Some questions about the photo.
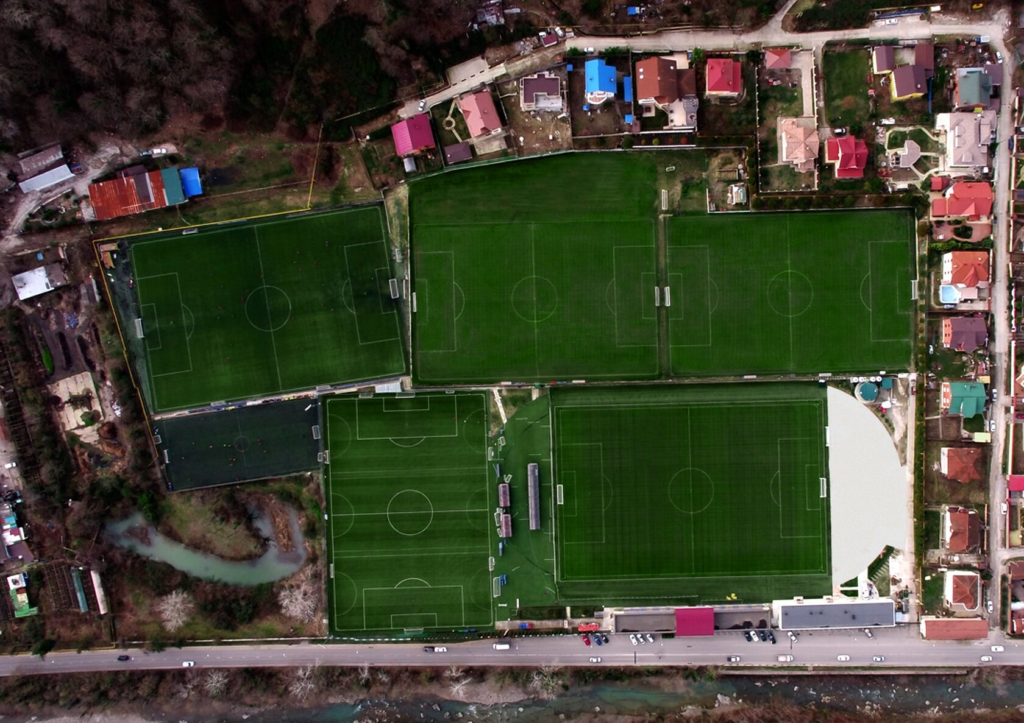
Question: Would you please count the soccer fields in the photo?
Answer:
6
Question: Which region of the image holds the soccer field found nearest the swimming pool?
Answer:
right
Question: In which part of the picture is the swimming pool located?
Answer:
right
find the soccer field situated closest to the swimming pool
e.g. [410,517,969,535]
[667,209,916,379]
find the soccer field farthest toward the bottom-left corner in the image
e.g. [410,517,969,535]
[156,397,323,491]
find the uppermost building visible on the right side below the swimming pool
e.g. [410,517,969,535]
[941,318,987,351]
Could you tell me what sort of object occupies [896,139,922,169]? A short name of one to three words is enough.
building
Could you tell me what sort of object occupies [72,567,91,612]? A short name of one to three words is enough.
greenhouse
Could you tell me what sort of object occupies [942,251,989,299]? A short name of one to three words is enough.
house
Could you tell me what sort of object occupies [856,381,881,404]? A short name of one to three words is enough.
water tank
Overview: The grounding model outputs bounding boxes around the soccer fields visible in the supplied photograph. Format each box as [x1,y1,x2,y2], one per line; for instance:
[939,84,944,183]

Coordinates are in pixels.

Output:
[409,150,660,386]
[322,390,496,637]
[667,209,916,379]
[551,379,832,607]
[156,397,323,491]
[126,201,407,415]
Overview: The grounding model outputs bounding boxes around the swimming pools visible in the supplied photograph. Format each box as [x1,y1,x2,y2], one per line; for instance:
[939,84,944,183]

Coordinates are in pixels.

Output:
[939,284,960,304]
